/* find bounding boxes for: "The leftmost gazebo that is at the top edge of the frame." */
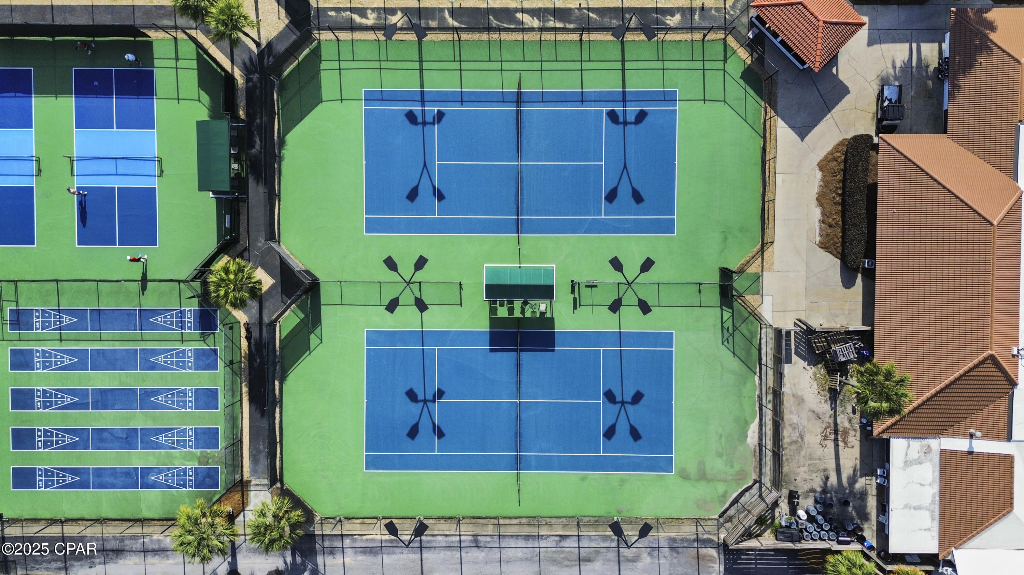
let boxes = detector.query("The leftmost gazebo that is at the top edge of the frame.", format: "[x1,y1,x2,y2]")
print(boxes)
[743,0,868,77]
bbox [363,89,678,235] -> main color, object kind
blue tennis court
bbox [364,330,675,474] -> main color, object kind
blue tennis court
